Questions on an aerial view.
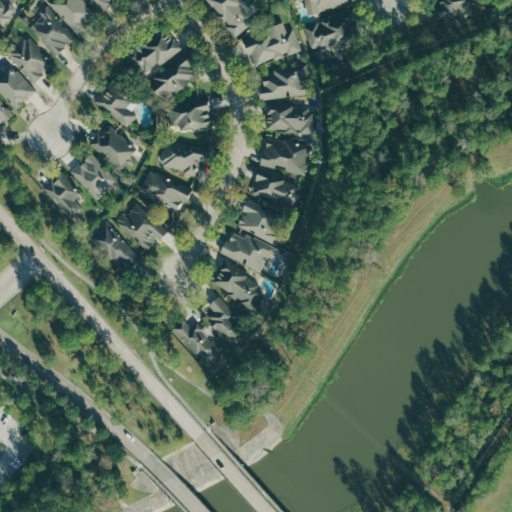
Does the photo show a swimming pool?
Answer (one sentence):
Yes, you can see a swimming pool in this photo.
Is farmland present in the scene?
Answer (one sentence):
No, the scene doesn't show any farmland.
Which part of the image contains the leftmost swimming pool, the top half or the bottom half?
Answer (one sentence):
The top half of the photo is where the leftmost swimming pool is.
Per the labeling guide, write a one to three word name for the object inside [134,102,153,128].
swimming pool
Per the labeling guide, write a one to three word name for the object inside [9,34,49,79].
house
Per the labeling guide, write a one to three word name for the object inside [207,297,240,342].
house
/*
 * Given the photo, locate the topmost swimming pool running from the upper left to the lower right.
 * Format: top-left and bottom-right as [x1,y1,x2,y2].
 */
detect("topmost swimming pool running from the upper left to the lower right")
[296,6,320,25]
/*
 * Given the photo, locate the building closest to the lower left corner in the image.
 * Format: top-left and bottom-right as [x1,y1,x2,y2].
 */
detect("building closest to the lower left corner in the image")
[170,317,218,358]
